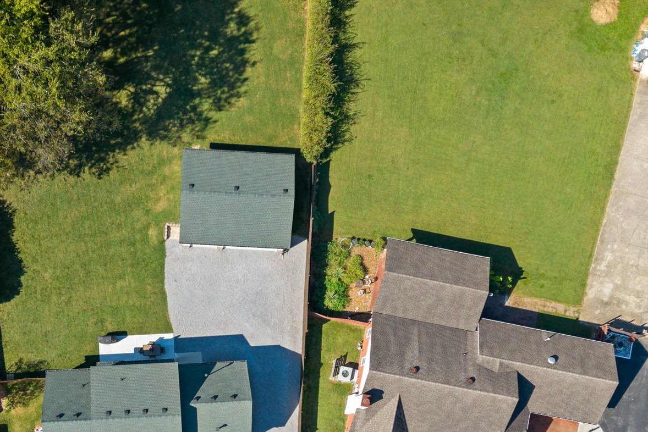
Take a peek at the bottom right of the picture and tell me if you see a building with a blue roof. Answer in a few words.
No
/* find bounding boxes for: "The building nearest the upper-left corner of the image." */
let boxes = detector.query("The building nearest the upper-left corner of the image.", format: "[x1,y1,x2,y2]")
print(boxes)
[179,147,295,257]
